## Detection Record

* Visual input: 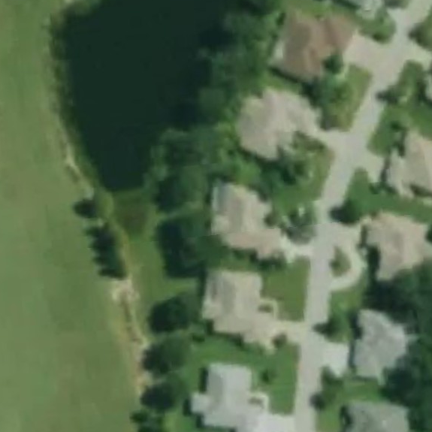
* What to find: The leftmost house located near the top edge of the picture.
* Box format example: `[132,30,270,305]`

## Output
[271,13,356,77]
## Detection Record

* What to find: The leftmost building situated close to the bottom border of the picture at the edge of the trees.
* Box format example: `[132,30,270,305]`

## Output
[191,363,263,432]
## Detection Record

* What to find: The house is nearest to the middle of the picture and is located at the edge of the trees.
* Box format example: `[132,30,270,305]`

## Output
[211,182,285,256]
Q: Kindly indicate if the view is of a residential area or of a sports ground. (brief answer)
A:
residential area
